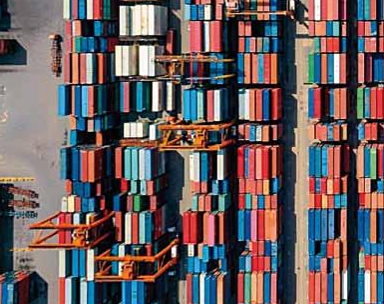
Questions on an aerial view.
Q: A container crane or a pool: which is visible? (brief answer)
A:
container crane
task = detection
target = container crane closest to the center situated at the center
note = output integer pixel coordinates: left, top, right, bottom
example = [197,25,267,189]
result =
[157,114,238,152]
